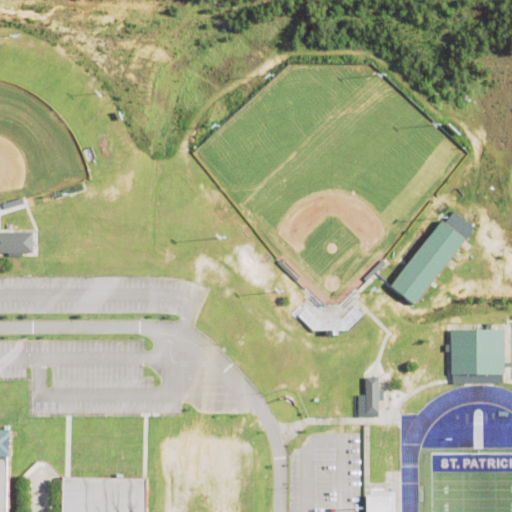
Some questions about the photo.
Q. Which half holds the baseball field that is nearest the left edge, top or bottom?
top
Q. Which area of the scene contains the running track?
bottom right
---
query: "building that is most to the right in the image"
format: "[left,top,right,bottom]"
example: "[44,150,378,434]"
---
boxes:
[451,330,504,384]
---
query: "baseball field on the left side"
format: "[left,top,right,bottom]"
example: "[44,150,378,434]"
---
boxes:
[0,82,86,204]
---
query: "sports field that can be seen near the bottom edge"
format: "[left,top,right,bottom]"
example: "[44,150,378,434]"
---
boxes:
[420,448,512,512]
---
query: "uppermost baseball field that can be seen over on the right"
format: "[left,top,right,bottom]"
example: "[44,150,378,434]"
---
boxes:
[197,66,466,304]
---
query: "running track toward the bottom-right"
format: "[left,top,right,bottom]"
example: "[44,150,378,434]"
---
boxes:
[402,386,512,512]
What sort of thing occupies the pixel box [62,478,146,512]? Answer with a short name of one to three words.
building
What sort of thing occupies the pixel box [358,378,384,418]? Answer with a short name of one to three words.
building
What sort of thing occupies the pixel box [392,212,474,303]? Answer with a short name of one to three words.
barn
